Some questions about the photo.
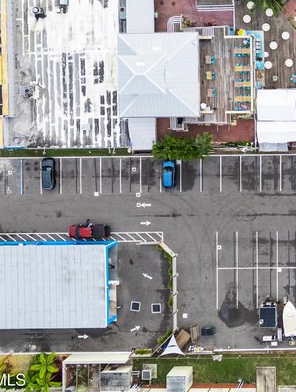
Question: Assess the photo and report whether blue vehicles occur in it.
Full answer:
Yes, the frame does contain a blue vehicle.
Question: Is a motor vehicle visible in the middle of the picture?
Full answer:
Yes, you'll find a motor vehicle in the middle of the picture.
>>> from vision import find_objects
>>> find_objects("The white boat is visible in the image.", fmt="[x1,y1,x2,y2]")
[282,293,296,344]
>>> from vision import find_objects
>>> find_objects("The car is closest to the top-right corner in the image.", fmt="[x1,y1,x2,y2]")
[161,160,177,189]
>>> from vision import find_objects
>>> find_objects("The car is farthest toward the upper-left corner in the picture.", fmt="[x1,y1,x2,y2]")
[39,158,57,190]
